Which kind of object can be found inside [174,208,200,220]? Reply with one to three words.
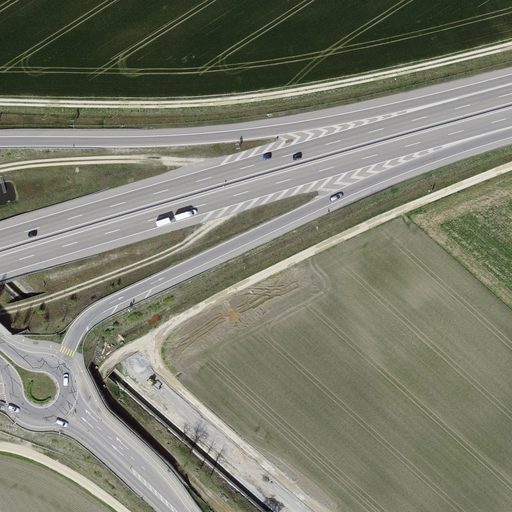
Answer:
vehicle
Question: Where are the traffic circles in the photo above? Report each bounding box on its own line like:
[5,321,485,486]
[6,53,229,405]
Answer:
[0,323,200,512]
